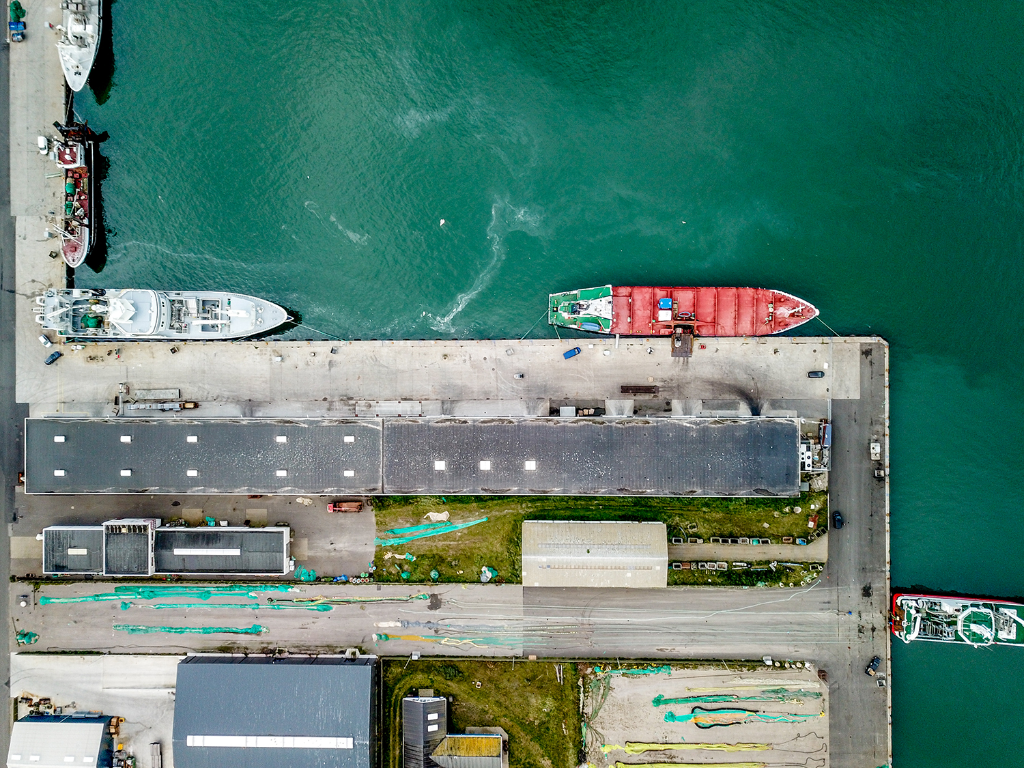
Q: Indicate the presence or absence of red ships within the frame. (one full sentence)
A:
Yes, there is a red ship in the image.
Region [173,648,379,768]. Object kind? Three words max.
building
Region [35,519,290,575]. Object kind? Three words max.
building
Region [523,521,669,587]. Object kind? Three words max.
shed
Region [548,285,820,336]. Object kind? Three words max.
ship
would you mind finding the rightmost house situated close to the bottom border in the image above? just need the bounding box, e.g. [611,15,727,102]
[403,693,502,768]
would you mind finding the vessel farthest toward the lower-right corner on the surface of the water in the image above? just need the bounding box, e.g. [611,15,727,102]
[889,592,1024,651]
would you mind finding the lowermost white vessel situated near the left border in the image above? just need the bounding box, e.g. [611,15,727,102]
[32,289,294,340]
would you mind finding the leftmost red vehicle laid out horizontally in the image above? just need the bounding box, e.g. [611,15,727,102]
[328,500,363,513]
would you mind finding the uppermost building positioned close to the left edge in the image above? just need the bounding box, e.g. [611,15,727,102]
[23,412,383,494]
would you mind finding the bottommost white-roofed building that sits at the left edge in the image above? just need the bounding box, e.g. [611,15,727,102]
[7,713,113,768]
